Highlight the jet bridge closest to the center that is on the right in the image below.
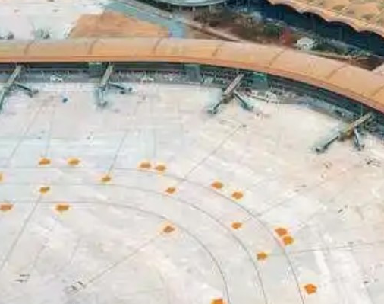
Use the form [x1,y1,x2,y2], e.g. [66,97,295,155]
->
[209,73,255,115]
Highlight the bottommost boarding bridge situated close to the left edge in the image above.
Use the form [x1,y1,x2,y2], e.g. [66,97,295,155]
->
[0,65,37,113]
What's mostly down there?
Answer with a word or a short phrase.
paved ground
